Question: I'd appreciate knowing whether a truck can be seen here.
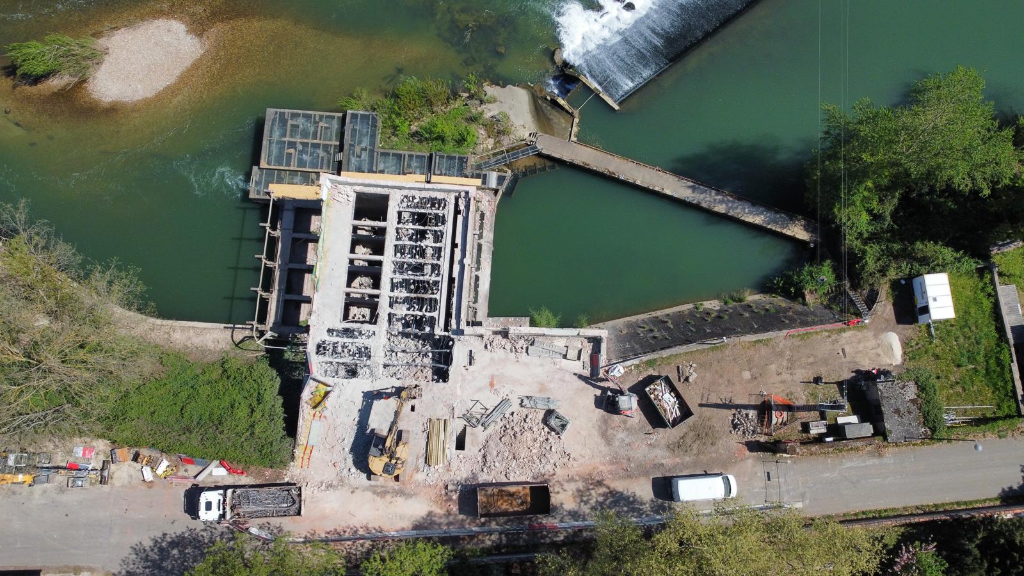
Yes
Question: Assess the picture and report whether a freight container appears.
Yes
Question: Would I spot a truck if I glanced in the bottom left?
Yes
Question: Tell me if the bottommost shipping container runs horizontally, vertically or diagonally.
horizontally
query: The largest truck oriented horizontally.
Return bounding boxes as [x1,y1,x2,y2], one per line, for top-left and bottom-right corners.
[200,481,308,526]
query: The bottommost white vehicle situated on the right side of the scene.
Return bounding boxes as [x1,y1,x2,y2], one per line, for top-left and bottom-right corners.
[670,471,738,502]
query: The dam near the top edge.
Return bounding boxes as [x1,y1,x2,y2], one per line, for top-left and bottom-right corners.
[572,0,760,106]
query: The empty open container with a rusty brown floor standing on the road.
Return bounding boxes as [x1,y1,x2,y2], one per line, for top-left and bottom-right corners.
[477,481,551,517]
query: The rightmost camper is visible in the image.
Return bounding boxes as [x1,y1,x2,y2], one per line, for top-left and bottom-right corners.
[908,274,954,340]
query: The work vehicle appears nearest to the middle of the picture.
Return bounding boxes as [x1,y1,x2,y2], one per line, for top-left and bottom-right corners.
[604,368,639,417]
